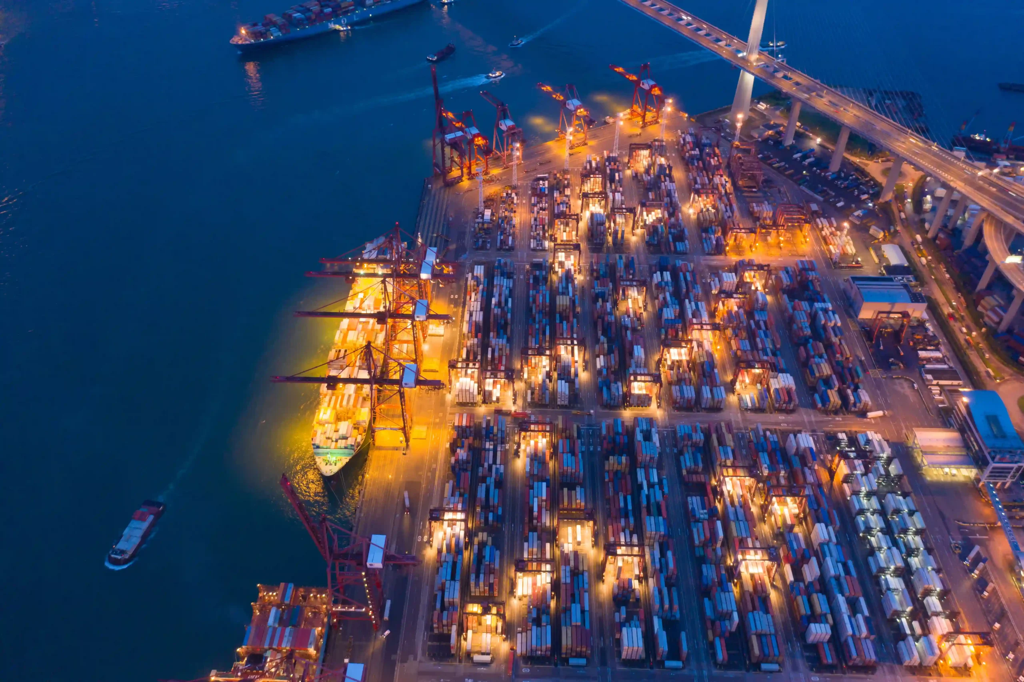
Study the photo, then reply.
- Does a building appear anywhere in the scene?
Yes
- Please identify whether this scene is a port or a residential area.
port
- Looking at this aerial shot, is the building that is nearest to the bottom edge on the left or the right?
right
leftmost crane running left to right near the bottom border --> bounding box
[149,651,374,682]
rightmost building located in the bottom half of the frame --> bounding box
[953,390,1024,499]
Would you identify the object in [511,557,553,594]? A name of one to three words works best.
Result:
container crane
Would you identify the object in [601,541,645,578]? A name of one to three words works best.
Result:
container crane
